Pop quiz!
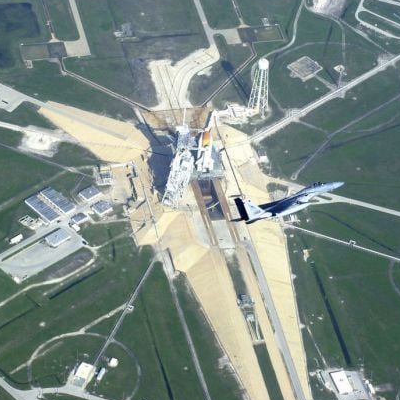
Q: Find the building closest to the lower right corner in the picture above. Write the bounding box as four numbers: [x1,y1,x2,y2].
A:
[331,370,354,396]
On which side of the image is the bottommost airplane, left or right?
right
